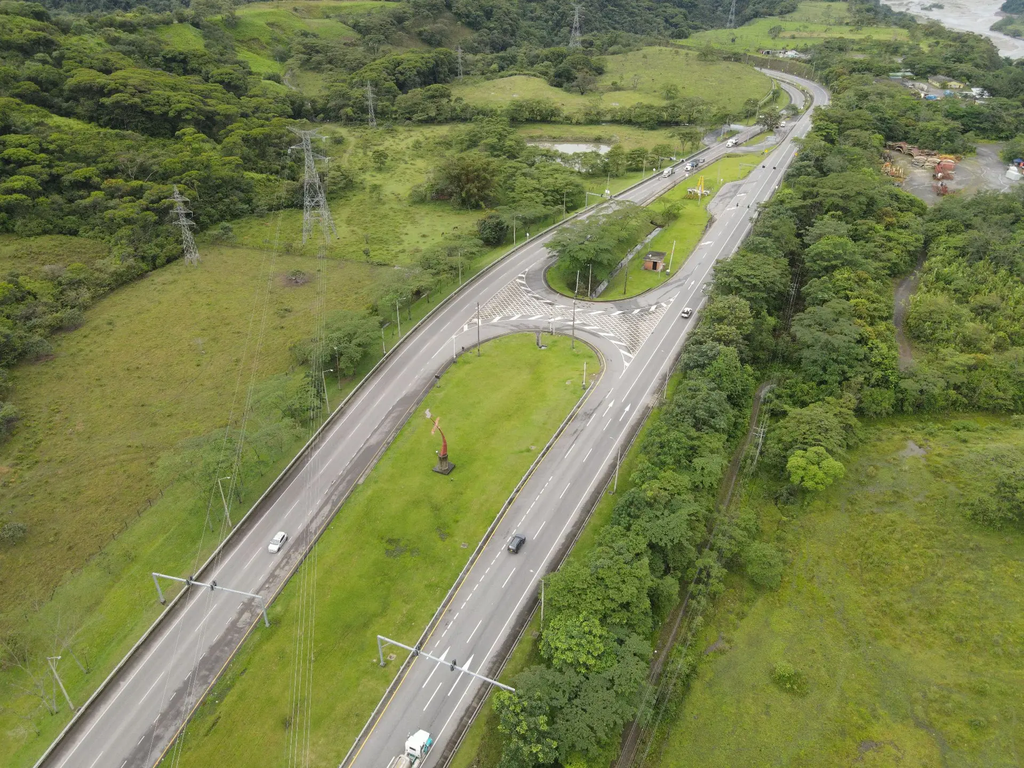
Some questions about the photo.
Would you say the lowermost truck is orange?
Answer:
No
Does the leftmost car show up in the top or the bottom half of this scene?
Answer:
bottom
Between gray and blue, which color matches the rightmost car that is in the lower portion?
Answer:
gray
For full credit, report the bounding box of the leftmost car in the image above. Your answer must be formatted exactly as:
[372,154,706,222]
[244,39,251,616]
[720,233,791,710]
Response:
[265,528,289,553]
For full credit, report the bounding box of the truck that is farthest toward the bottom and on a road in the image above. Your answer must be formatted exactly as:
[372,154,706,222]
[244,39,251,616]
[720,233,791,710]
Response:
[392,727,435,768]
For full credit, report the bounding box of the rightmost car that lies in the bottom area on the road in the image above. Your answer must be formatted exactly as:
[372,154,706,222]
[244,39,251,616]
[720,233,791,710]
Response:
[505,533,526,555]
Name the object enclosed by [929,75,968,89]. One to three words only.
house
